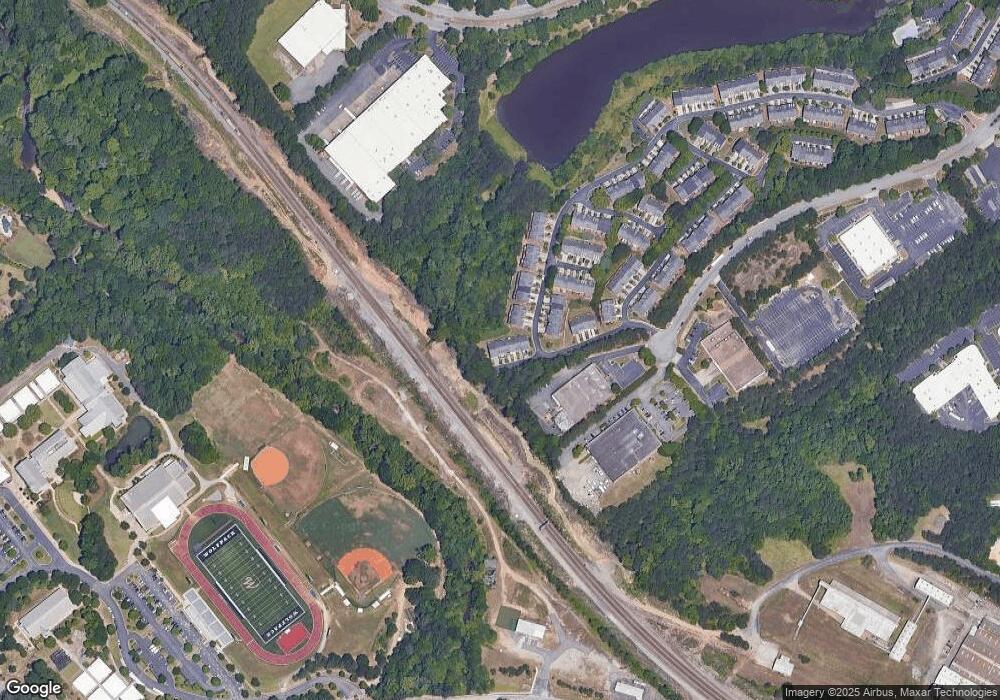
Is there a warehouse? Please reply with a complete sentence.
Yes, a warehouse can be made out from above.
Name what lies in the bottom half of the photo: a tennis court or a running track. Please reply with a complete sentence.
The one visible in the bottom half of the photo is a running track.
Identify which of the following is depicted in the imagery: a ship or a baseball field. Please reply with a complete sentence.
The one in the frame is a baseball field.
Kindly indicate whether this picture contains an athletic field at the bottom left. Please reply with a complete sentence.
Yes, you'll find an athletic field at the bottom left.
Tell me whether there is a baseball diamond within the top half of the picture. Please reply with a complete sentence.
No, the scene shows no baseball diamond within the top half of the picture.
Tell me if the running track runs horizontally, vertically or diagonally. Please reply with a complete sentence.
I'd say the running track is aligned diagonally in the picture.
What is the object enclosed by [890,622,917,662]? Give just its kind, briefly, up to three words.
building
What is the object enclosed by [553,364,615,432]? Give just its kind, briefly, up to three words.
building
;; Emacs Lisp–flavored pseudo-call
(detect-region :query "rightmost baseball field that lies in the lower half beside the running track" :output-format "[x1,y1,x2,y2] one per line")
[297,488,436,606]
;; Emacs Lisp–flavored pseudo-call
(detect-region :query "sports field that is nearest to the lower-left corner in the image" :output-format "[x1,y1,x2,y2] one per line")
[188,514,312,654]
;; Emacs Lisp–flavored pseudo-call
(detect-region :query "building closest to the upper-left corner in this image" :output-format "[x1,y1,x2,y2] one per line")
[277,0,346,67]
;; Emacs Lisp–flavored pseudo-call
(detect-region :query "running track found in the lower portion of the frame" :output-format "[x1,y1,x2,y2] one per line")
[178,504,322,664]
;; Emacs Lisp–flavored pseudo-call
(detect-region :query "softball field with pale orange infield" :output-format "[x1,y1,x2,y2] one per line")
[251,446,289,486]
